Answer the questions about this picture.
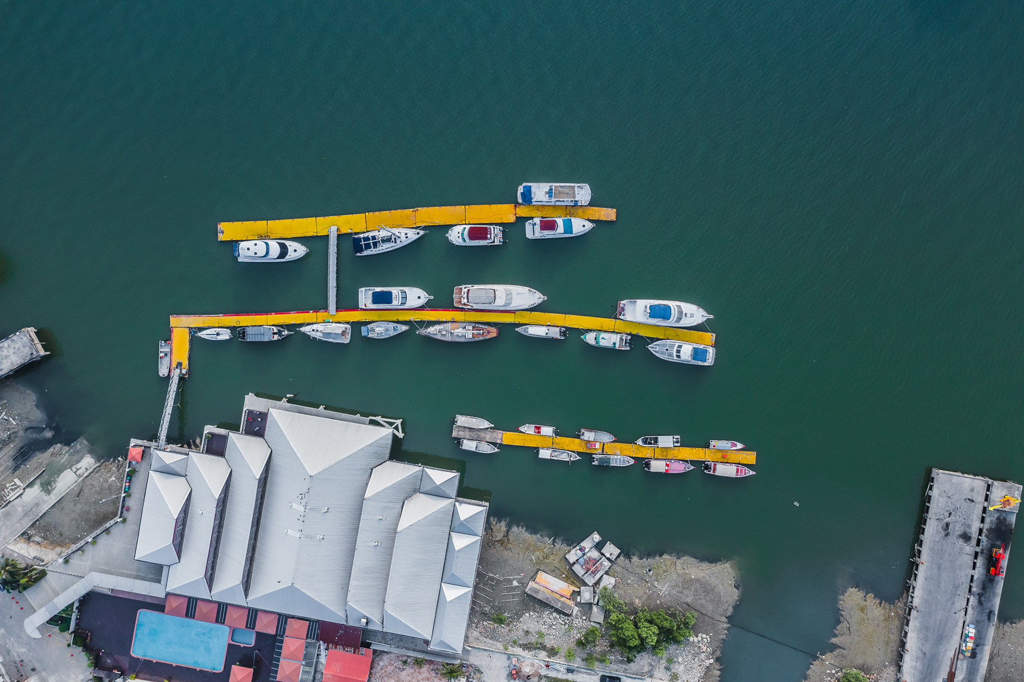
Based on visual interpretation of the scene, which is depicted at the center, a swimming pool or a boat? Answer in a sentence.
There is a boat at the center.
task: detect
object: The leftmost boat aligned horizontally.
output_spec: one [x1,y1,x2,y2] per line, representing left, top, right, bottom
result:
[194,328,234,340]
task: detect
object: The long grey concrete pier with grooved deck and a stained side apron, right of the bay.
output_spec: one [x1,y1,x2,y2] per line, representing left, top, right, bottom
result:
[890,467,1022,682]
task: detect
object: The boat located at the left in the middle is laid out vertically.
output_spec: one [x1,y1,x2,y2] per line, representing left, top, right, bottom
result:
[158,337,170,377]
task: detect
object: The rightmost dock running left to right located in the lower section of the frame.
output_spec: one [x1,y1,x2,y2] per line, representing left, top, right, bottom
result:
[454,425,756,464]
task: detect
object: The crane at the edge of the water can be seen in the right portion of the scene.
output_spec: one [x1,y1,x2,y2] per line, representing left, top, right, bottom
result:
[985,542,1007,576]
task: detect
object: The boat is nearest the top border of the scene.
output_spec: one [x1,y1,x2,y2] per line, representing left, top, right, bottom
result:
[517,183,593,206]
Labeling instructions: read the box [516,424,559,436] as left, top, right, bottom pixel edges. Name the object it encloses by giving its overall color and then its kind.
white boat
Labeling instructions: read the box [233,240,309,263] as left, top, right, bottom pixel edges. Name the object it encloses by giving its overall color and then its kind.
white boat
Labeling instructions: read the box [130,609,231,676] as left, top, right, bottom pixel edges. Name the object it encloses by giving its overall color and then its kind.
blue swimming pool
